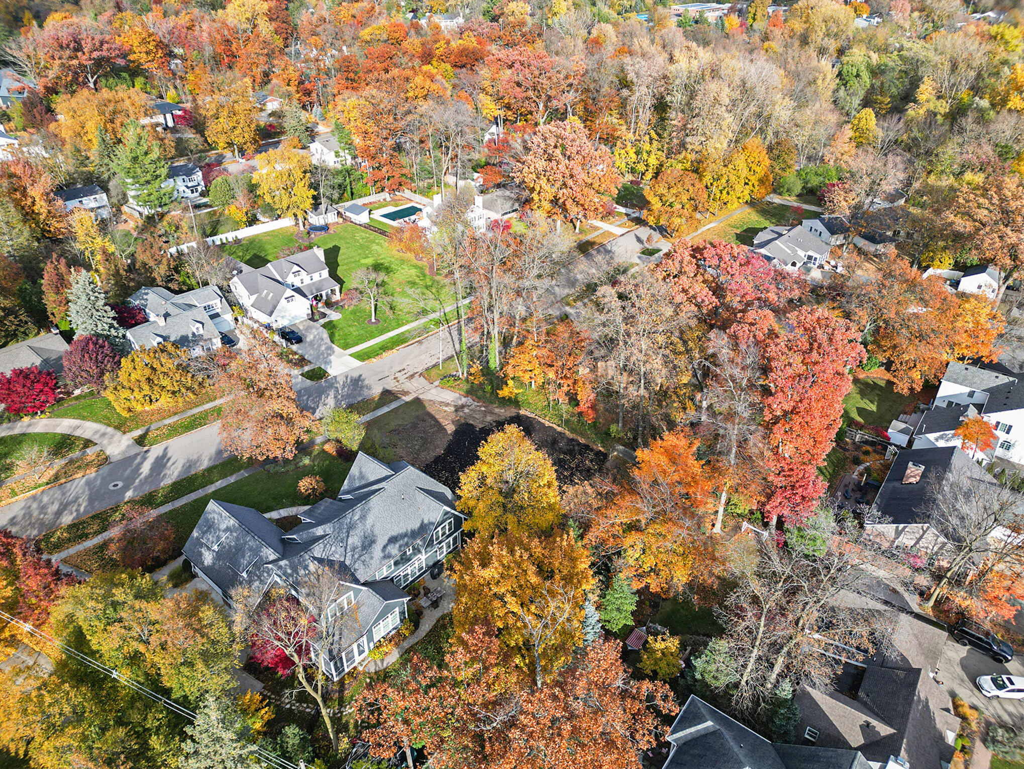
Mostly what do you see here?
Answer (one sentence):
For the most part, this view shows trees.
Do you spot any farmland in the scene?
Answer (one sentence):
No, farmland can't be seen anywhere here.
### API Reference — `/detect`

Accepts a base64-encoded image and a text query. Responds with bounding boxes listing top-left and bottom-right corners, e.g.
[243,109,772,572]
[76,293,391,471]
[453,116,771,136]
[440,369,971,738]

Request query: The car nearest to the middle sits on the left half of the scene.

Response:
[279,326,301,343]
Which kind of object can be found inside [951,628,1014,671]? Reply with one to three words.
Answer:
car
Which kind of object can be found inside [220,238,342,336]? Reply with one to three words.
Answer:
house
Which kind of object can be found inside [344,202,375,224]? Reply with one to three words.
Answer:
shed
